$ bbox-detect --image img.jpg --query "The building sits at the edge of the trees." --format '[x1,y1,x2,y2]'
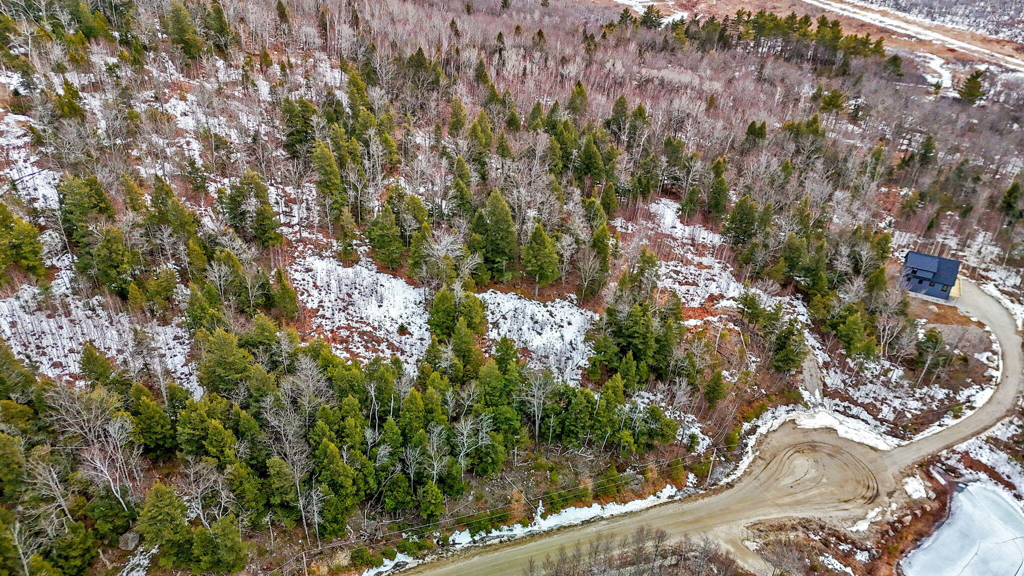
[903,250,964,302]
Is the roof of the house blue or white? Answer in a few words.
blue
